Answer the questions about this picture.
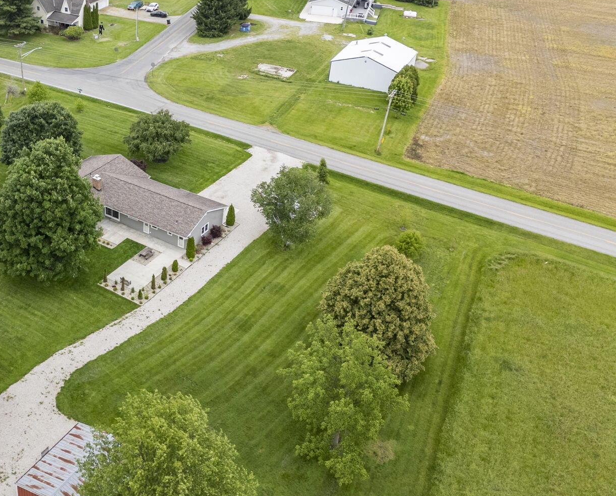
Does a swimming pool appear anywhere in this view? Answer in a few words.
No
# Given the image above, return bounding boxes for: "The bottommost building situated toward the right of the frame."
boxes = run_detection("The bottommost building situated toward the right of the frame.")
[328,32,418,91]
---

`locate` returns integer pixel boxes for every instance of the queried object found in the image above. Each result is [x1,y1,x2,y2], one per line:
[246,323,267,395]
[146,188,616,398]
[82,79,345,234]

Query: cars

[149,9,169,17]
[127,0,143,9]
[145,2,159,11]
